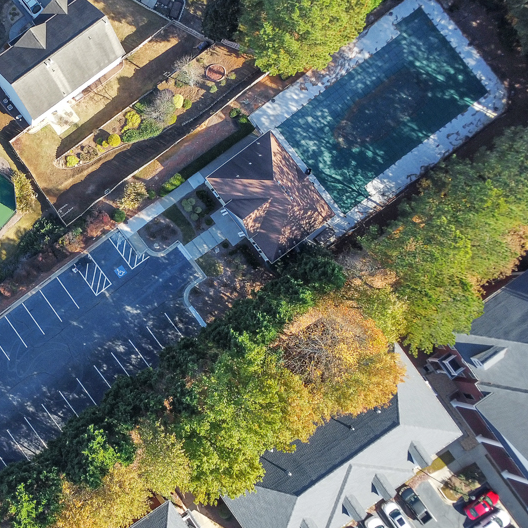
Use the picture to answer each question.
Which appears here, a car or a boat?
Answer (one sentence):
Looking from above, you can make out a car.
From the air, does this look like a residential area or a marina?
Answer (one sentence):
What you see here is a residential area.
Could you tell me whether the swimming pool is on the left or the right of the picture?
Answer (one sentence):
The swimming pool is on the right side of the image.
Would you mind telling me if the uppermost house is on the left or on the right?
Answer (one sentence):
It is on the left.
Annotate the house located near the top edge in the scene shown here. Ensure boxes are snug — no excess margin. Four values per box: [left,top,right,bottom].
[0,0,123,126]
